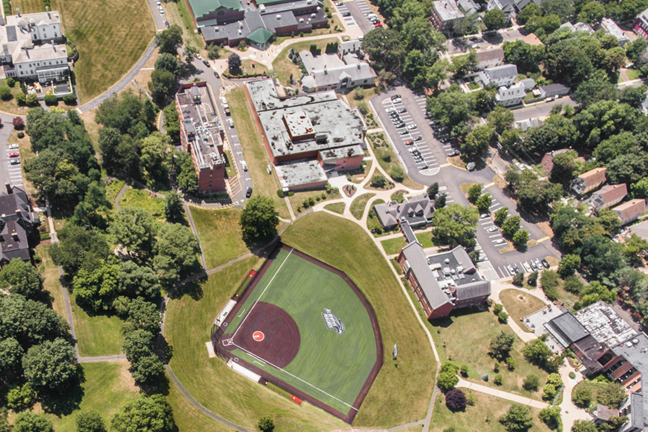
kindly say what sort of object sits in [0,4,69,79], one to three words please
house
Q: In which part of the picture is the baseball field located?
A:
bottom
